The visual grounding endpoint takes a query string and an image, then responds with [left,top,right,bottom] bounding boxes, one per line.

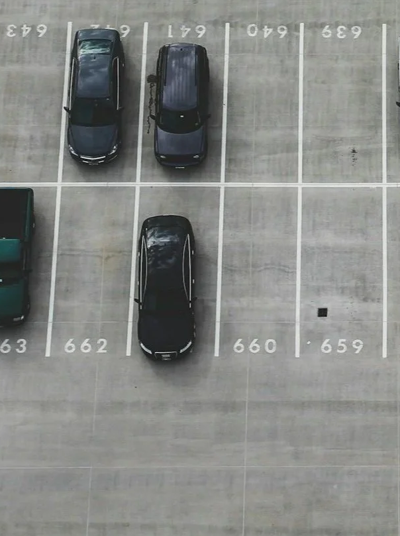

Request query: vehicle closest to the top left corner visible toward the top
[61,28,126,167]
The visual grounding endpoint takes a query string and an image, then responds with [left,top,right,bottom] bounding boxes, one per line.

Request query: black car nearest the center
[132,215,199,362]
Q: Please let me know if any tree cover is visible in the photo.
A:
No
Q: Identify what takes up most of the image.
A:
paved ground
